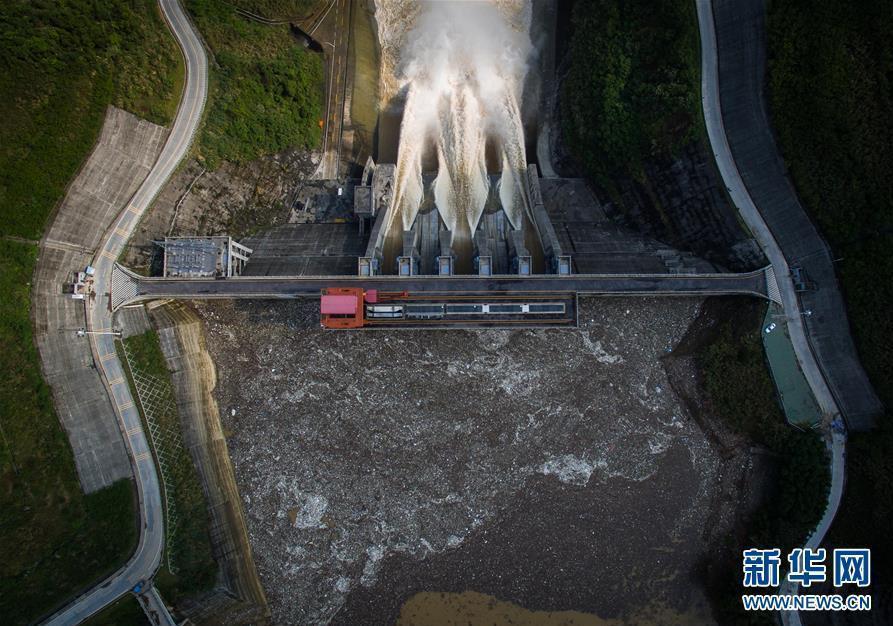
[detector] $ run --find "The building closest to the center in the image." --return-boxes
[354,187,378,221]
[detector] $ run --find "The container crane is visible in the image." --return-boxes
[320,289,407,329]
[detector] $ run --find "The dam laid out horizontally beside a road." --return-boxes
[110,159,786,330]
